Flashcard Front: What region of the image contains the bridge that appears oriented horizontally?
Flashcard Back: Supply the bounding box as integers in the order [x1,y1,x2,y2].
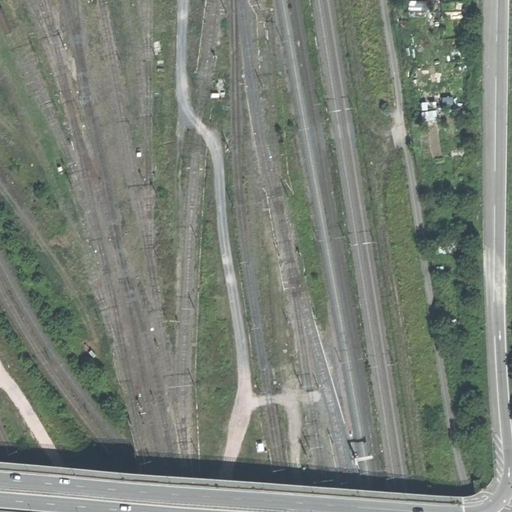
[0,462,474,512]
